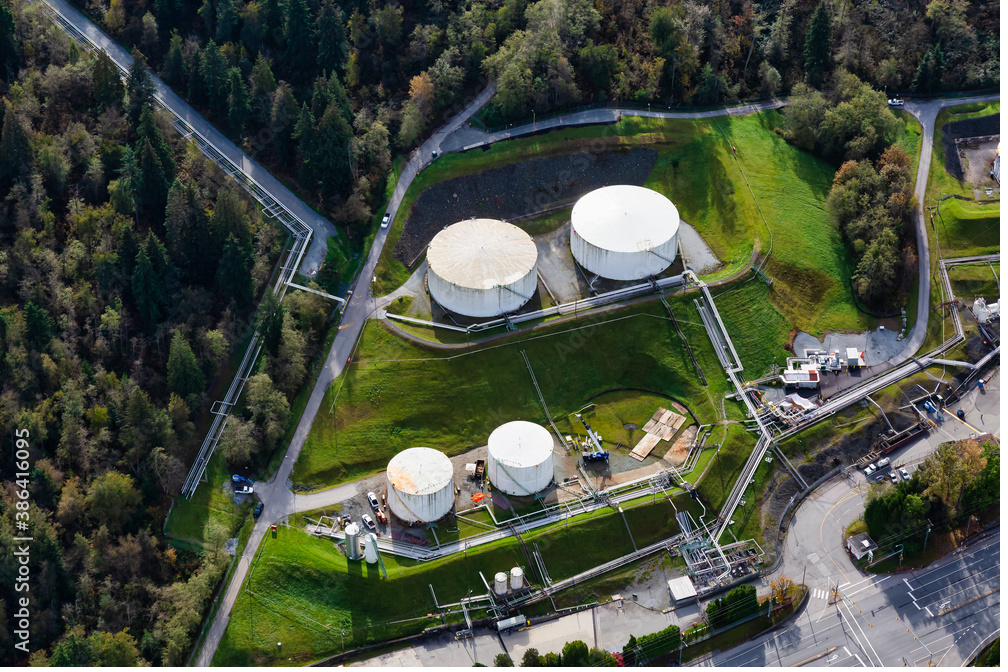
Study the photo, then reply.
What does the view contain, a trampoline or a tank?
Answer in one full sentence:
Visible in the photo is a tank.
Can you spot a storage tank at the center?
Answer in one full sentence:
Yes, a storage tank is visible at the center.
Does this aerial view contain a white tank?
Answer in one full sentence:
Yes, the image includes a white tank.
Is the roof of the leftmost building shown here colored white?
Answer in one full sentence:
Yes, the roof of the leftmost building appears white.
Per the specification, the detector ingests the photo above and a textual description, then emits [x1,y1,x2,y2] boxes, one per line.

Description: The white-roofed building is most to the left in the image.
[673,580,703,611]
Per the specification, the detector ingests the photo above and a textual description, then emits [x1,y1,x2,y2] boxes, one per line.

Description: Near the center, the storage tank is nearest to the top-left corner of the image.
[429,219,542,322]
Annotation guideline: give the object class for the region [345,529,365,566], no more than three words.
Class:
silo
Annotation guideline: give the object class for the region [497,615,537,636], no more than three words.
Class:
vehicle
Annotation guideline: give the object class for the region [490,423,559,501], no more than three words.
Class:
storage tank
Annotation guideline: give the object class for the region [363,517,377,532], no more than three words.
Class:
vehicle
